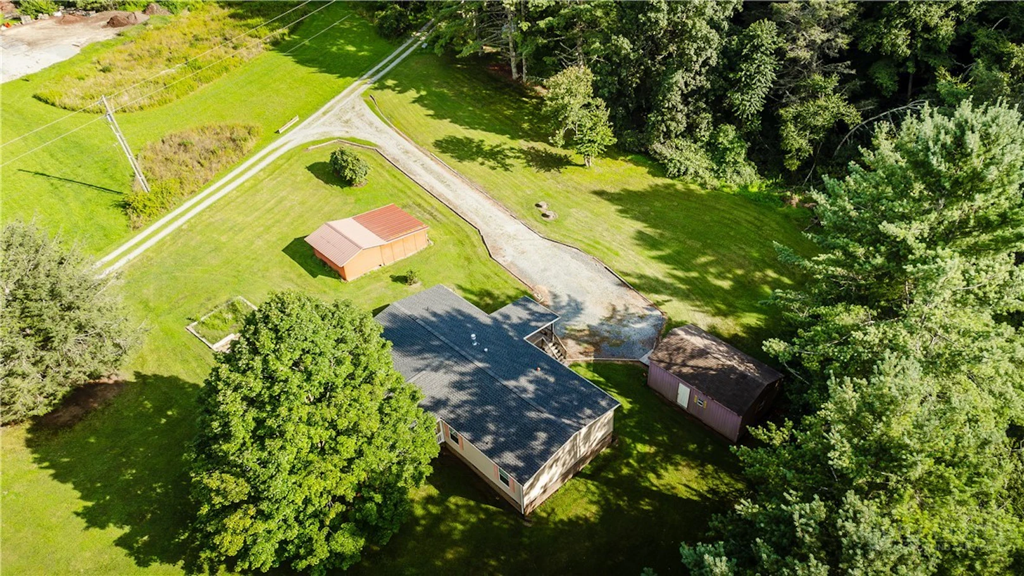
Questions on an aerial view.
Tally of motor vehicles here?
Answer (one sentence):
I count no motor vehicles.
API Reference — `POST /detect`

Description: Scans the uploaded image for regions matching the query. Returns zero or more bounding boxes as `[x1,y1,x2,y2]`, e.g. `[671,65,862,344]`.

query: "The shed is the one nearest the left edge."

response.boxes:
[306,204,429,282]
